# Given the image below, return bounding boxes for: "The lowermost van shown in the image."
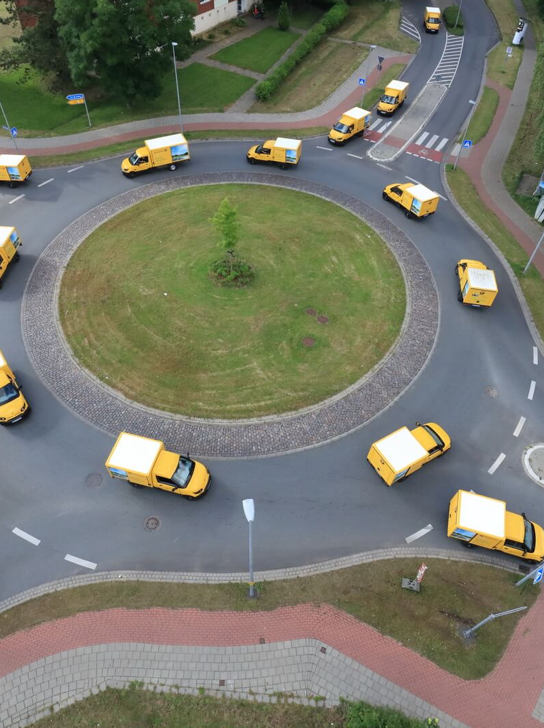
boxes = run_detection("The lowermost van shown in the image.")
[446,491,544,568]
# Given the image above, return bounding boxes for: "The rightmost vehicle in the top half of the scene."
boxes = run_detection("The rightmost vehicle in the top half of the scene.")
[457,259,498,310]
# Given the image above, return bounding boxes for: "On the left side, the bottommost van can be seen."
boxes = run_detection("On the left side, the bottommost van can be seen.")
[108,434,210,502]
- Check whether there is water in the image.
No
